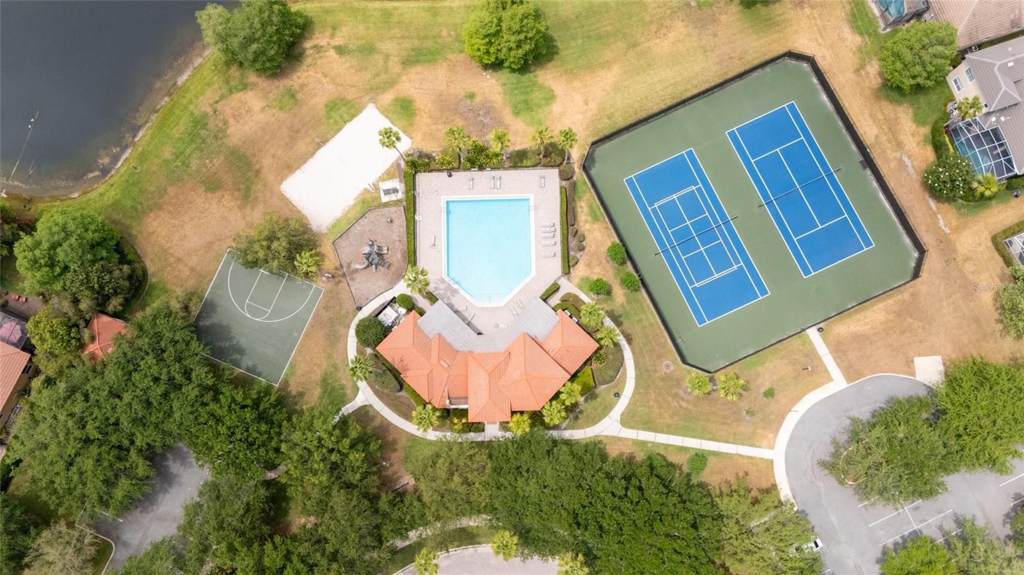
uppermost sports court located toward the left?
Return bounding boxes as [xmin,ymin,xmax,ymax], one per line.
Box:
[281,104,411,231]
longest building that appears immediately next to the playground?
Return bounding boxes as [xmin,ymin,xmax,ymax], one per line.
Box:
[376,310,598,424]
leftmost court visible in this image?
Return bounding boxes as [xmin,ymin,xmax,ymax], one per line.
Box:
[190,250,324,387]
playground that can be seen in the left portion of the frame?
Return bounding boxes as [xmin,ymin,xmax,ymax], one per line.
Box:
[331,205,408,307]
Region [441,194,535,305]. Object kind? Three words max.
swimming pool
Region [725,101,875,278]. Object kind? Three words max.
tennis court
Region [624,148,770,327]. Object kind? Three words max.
tennis court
